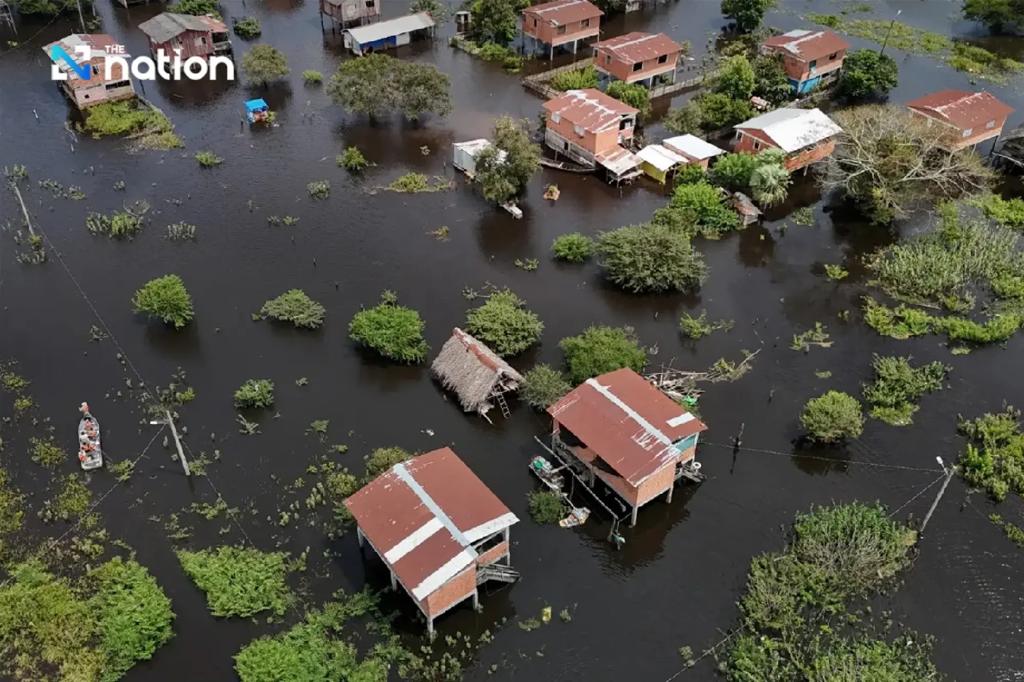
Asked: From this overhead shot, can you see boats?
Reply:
Yes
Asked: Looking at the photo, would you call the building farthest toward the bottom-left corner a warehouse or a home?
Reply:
home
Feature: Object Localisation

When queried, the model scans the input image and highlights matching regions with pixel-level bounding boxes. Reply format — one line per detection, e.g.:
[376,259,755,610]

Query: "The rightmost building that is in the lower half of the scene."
[548,367,710,525]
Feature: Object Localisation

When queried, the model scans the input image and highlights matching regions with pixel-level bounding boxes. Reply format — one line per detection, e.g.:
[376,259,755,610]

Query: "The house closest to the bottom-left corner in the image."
[343,446,528,637]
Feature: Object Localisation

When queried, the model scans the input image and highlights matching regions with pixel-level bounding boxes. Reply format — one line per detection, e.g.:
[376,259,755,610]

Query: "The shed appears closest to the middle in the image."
[428,327,526,429]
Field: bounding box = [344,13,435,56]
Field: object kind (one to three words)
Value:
barn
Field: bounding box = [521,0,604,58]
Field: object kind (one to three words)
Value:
house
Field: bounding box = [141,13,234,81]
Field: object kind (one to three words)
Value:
house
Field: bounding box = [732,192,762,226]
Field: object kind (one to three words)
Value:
shed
